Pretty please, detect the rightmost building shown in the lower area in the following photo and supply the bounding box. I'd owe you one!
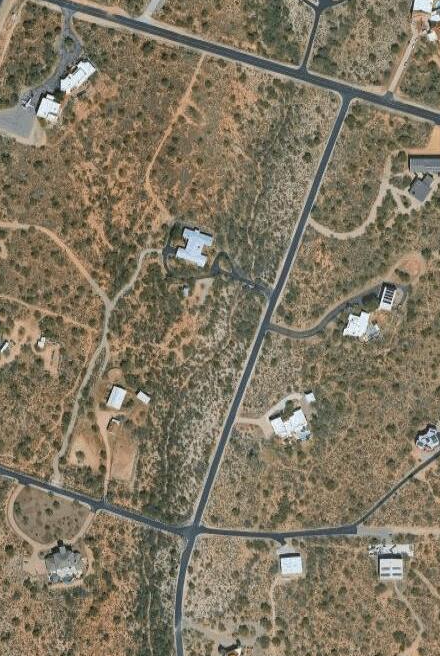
[417,429,440,449]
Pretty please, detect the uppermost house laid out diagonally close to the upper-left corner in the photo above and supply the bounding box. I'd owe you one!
[61,62,96,93]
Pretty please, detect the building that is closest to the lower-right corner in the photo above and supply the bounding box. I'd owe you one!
[380,559,404,581]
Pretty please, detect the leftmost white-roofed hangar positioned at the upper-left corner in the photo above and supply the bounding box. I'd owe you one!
[37,95,61,123]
